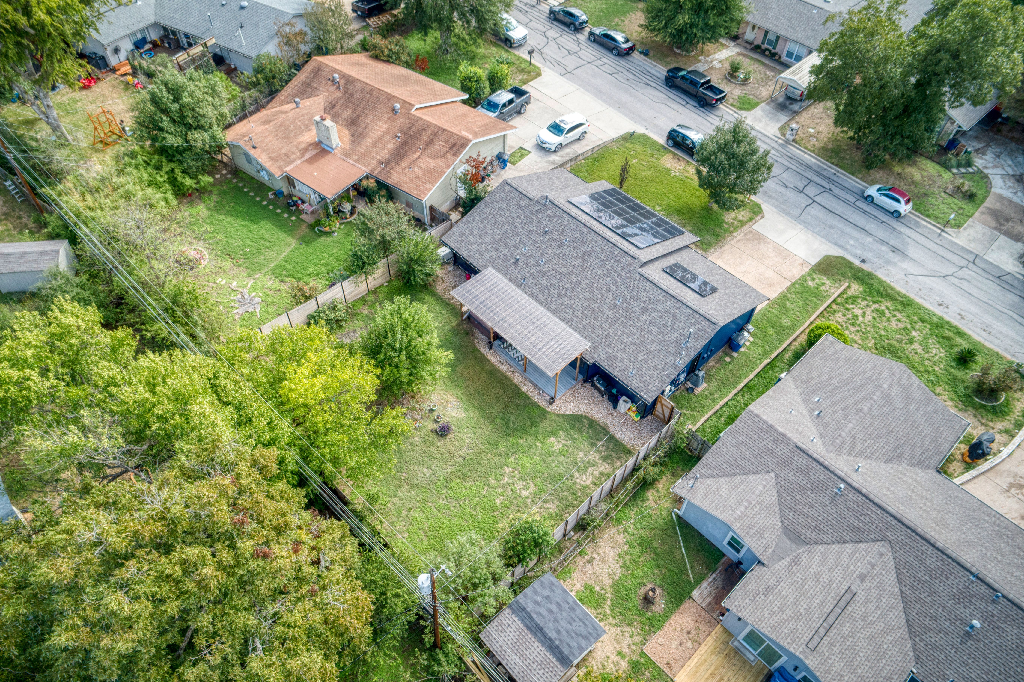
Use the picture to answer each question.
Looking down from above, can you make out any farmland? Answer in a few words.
No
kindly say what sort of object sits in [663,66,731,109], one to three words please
truck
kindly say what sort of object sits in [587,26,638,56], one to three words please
car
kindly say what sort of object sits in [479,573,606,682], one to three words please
shed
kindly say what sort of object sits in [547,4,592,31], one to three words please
car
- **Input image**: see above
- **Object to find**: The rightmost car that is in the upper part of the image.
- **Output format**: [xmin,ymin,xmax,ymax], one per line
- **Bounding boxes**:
[864,183,922,220]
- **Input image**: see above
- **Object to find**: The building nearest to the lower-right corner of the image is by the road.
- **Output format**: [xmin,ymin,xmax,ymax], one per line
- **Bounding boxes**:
[670,333,1024,682]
